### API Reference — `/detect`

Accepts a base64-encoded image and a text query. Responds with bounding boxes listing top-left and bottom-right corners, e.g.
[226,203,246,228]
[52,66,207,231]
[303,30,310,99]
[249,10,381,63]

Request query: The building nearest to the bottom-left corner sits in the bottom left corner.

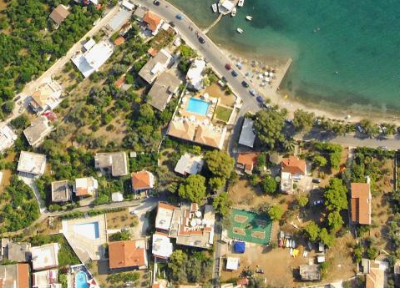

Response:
[0,260,30,288]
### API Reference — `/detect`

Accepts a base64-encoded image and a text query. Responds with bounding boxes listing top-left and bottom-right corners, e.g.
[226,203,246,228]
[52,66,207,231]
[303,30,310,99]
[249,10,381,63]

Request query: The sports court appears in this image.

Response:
[229,209,272,245]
